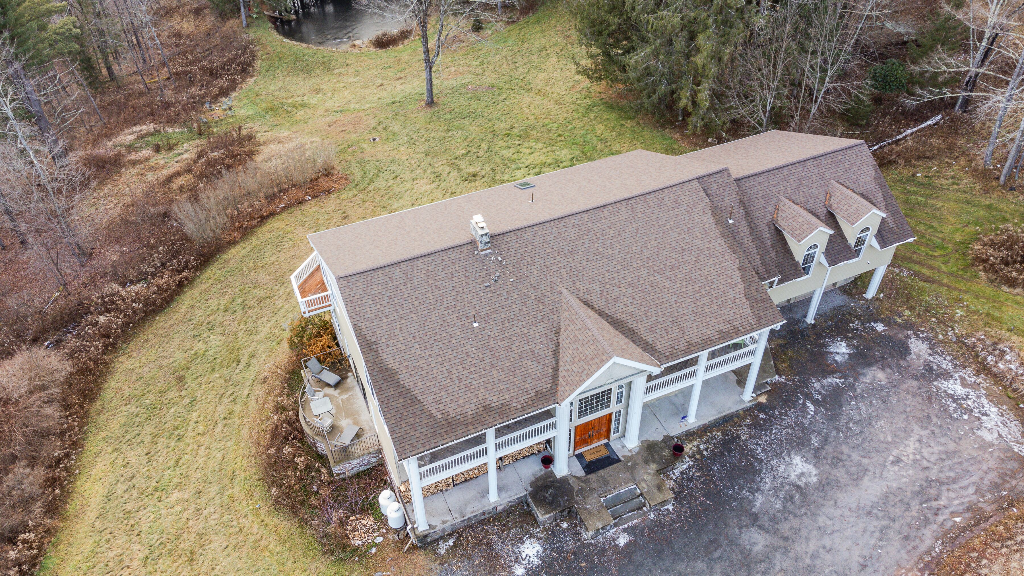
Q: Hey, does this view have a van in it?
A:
No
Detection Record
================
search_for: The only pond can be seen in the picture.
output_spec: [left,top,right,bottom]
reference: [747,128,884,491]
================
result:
[250,0,420,50]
